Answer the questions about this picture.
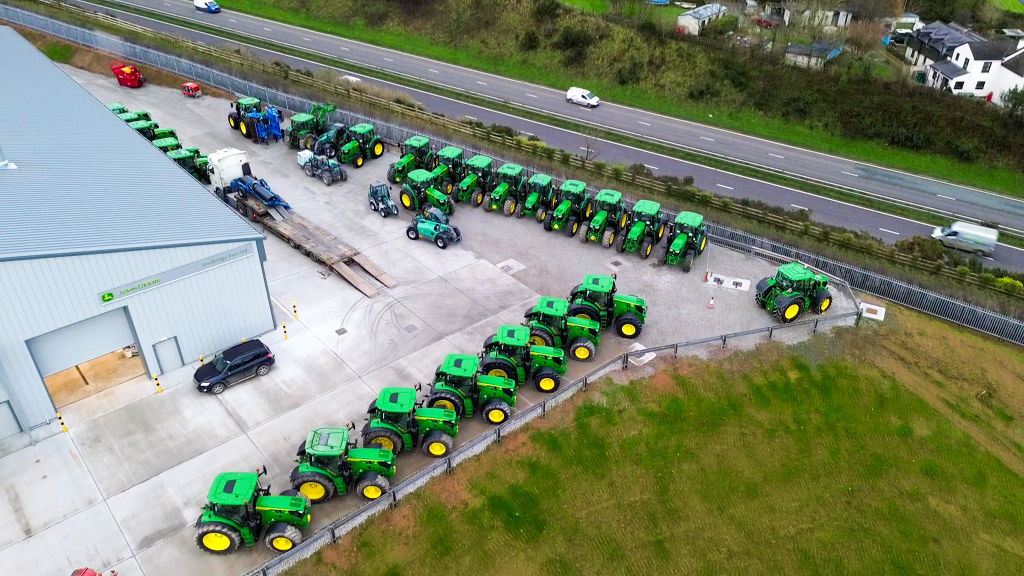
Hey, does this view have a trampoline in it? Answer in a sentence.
No, there's no trampoline here.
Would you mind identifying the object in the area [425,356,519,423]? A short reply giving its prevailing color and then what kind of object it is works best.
green work vehicle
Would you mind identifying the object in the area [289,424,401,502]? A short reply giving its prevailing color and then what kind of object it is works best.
green work vehicle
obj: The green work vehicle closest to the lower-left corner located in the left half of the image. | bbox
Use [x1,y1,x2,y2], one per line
[189,468,316,554]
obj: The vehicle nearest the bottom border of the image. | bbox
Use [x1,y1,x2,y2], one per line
[70,551,112,576]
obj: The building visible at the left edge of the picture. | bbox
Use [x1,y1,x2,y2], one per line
[0,13,277,440]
